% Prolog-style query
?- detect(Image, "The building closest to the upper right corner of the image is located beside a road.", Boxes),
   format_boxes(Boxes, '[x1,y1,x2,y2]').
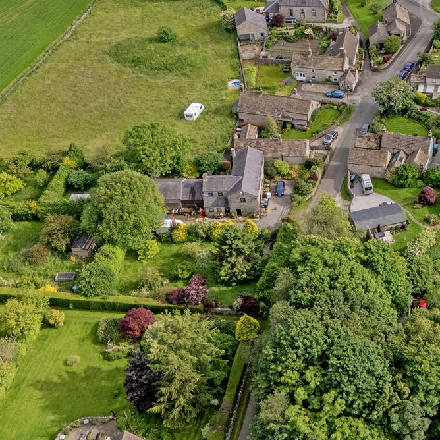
[368,4,415,43]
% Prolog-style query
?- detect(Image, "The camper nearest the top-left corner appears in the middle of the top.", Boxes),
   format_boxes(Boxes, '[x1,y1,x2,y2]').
[181,103,204,122]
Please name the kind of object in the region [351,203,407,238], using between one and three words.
building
